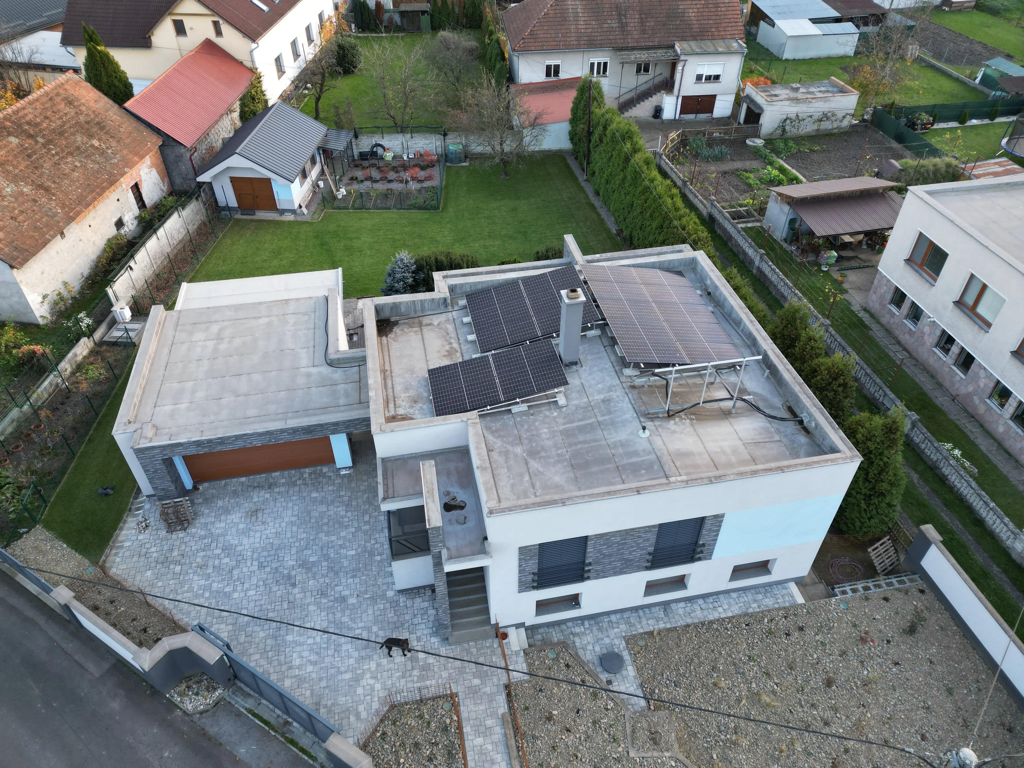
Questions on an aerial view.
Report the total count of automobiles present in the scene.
0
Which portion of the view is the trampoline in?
top right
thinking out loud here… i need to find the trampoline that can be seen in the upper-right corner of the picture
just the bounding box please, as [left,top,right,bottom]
[994,103,1024,160]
